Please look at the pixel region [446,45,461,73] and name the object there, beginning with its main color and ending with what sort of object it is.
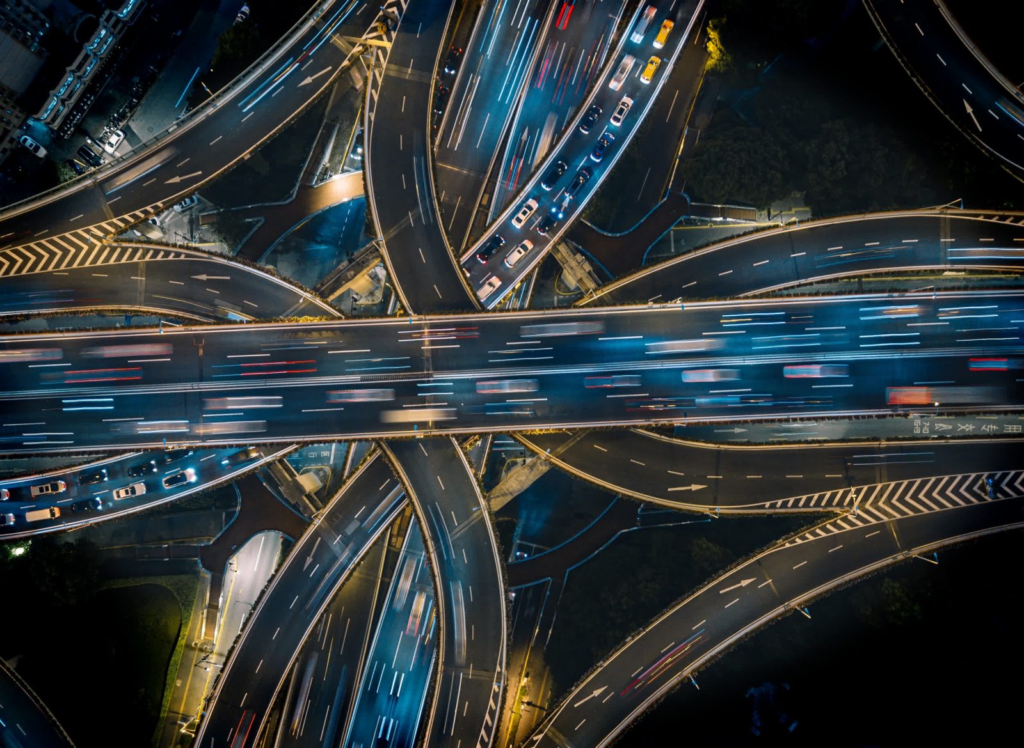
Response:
black car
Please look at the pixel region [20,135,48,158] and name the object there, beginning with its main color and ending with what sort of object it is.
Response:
blue car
